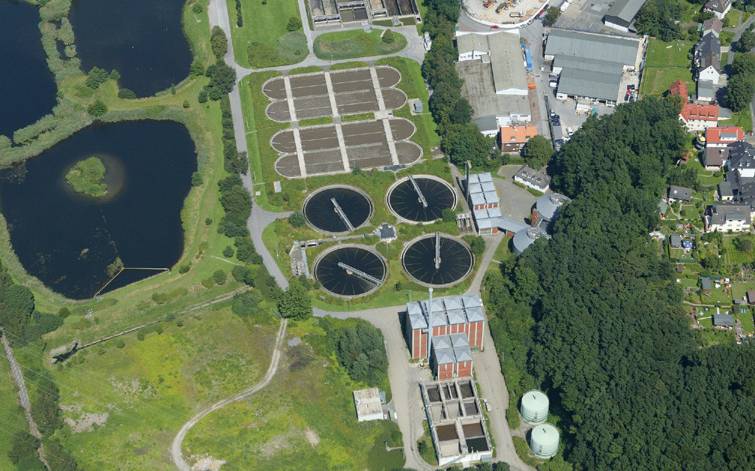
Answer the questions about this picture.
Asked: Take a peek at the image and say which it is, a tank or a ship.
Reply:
tank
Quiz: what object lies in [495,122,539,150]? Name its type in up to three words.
house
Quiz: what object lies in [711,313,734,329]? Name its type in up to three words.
shed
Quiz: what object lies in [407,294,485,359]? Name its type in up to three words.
building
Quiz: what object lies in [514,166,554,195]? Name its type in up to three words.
house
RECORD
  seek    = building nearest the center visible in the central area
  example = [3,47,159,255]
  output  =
[375,226,399,244]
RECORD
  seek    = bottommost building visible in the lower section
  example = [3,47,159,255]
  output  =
[353,387,383,420]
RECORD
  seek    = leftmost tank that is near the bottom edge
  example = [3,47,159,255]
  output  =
[422,376,493,464]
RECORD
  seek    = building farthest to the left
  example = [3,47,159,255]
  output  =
[282,231,307,278]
